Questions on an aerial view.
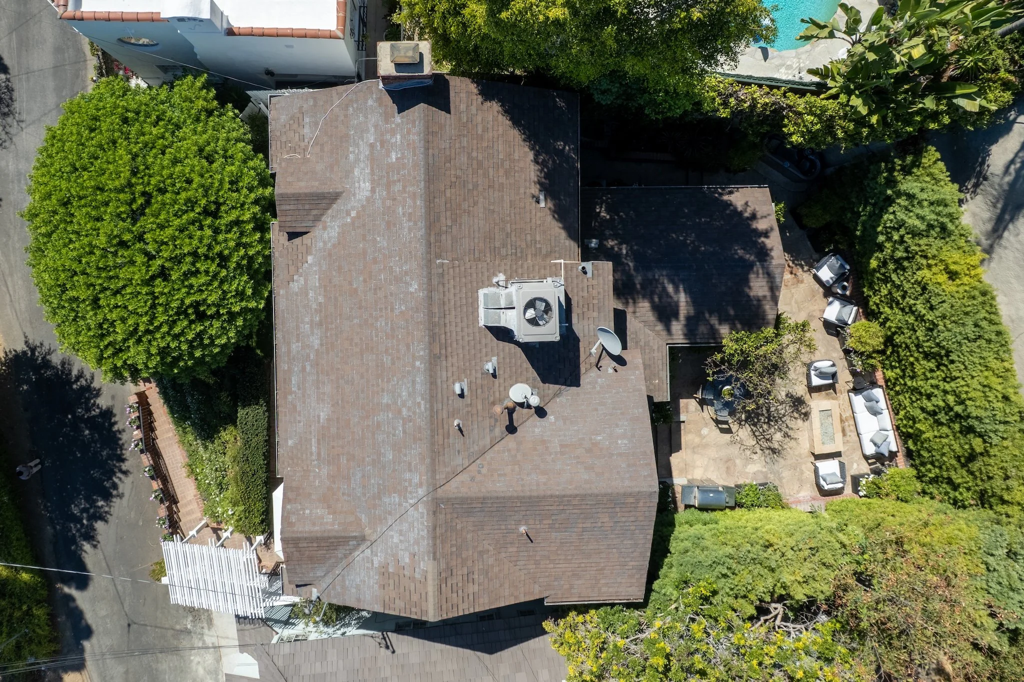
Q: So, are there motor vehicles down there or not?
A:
No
